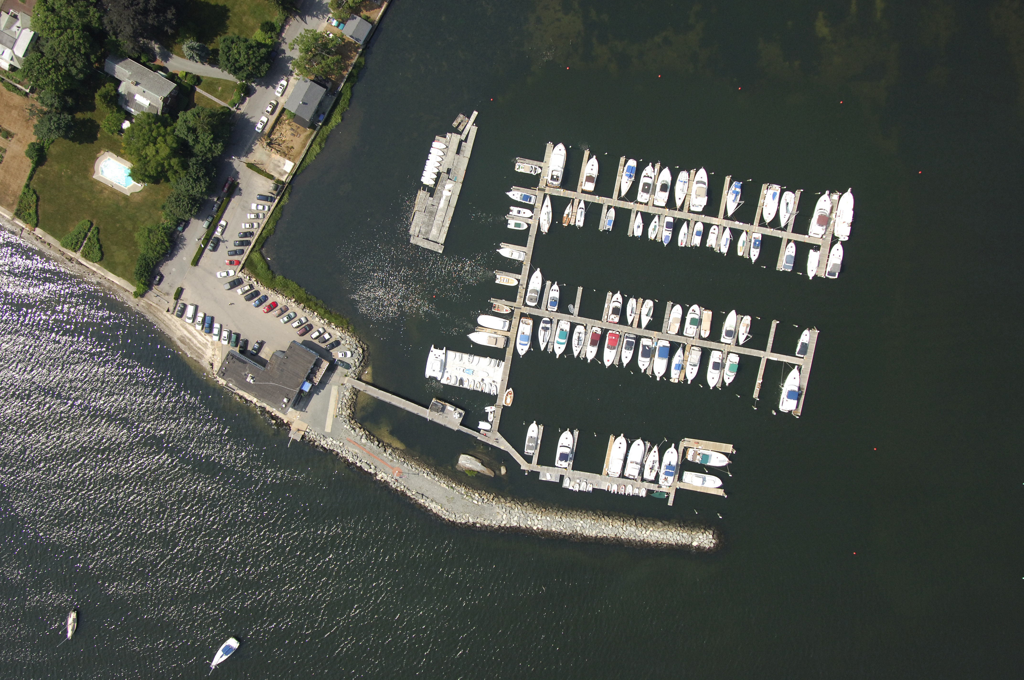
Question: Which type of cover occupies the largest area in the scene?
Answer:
water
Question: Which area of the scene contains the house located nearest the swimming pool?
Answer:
top left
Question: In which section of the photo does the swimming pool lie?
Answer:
top left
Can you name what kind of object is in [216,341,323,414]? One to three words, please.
building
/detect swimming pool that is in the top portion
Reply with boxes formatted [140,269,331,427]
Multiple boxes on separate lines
[93,151,144,195]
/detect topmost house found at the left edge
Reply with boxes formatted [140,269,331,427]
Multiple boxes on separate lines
[0,9,40,73]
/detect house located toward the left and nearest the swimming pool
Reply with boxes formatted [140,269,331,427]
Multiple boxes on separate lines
[104,56,180,117]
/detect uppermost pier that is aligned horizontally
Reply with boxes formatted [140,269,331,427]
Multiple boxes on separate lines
[543,151,839,276]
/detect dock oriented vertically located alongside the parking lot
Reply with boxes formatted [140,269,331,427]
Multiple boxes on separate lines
[477,143,553,431]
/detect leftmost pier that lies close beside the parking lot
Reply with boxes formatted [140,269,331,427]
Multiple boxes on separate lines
[345,377,466,431]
